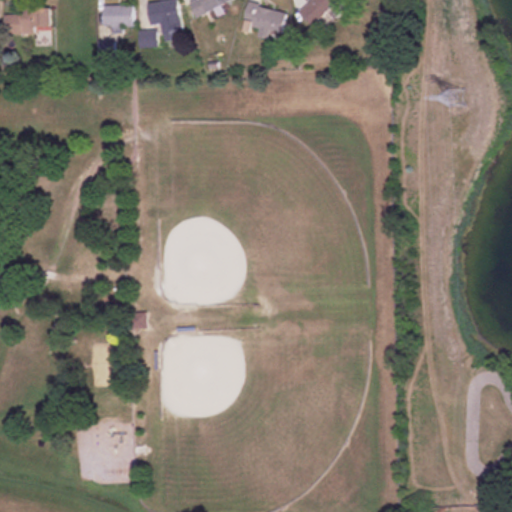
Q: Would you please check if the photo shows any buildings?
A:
Yes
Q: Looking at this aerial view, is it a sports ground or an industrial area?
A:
sports ground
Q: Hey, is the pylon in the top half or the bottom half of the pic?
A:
top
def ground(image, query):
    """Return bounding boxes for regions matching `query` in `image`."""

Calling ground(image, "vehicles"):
[98,0,104,12]
[296,12,302,23]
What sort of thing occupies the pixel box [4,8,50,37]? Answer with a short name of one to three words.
house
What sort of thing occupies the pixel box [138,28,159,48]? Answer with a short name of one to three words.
building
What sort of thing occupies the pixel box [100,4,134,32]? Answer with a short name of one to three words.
house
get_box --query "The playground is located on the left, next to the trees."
[74,416,137,487]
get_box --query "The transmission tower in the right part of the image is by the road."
[424,86,466,108]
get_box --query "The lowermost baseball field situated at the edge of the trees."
[159,321,372,512]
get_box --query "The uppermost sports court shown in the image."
[92,342,112,388]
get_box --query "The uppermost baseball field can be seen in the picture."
[160,120,370,307]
